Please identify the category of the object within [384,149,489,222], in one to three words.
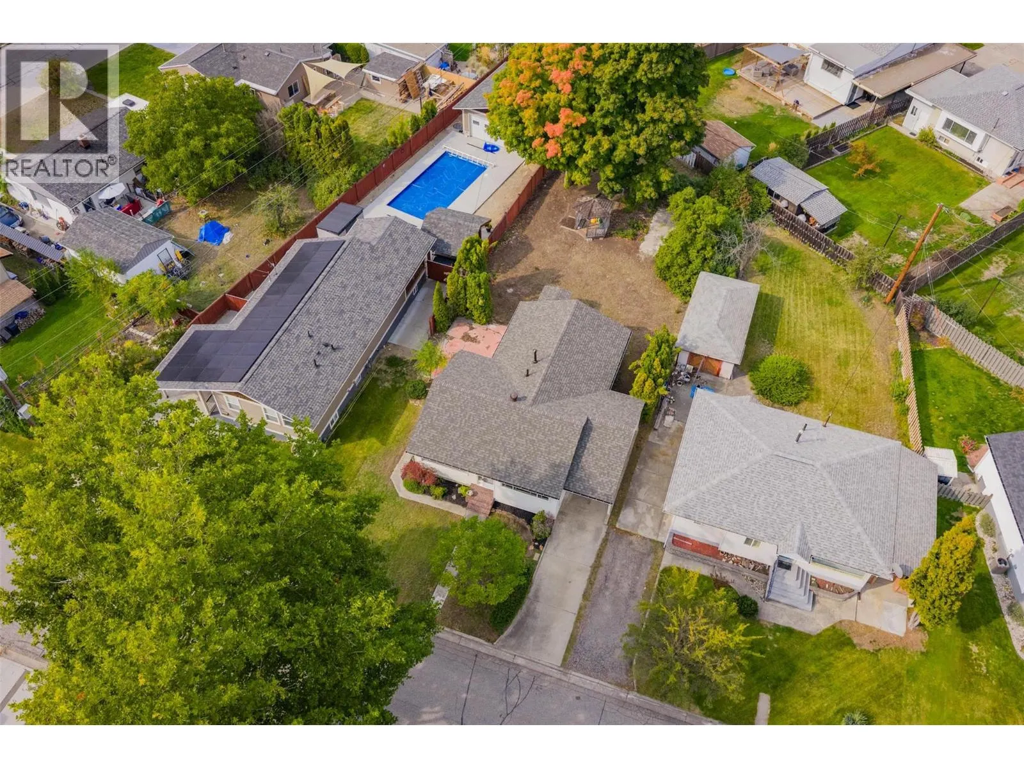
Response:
swimming pool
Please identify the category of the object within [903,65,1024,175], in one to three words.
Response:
house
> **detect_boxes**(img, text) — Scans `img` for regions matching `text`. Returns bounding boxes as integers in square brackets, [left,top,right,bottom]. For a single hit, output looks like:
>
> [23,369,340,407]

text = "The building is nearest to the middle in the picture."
[405,287,643,522]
